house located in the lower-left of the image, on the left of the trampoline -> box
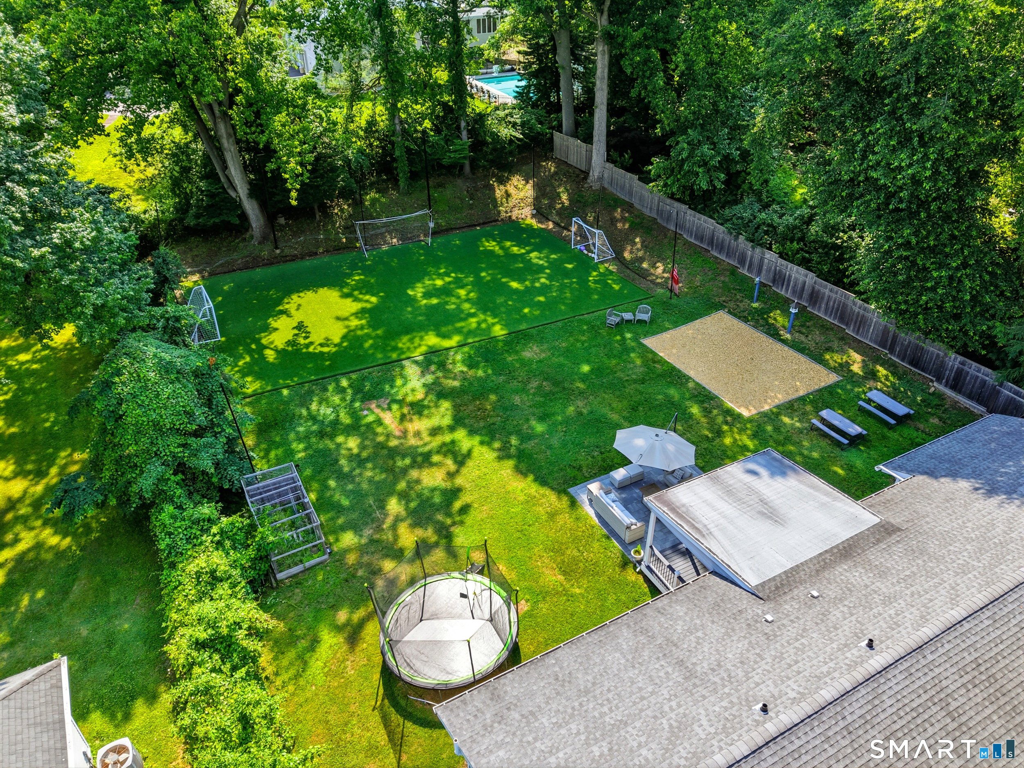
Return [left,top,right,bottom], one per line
[0,646,101,768]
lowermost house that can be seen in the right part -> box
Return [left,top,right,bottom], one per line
[431,415,1024,768]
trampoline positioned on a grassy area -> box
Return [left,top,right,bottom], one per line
[367,539,522,701]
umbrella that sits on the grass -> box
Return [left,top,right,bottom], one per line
[612,411,697,474]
